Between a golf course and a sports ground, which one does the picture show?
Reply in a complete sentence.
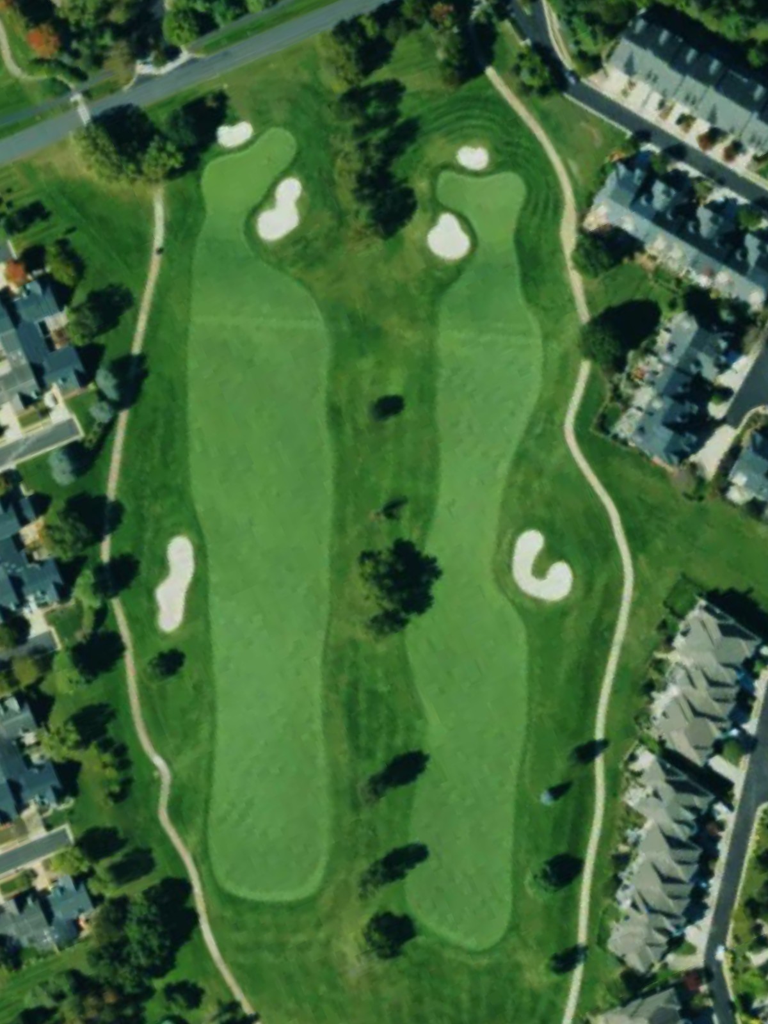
What you see here is a golf course.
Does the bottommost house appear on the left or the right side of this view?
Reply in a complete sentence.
It is on the right.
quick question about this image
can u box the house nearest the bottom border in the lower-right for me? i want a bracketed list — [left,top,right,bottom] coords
[596,984,688,1024]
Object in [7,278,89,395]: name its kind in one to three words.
house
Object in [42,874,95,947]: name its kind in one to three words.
house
